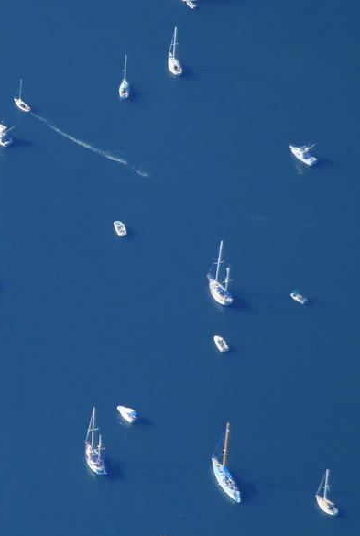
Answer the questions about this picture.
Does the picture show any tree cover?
No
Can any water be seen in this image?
Yes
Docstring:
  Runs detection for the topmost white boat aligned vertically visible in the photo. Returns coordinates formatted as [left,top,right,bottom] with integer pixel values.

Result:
[168,26,183,74]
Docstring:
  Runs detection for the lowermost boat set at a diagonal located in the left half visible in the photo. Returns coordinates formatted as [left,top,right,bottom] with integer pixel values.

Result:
[117,406,136,425]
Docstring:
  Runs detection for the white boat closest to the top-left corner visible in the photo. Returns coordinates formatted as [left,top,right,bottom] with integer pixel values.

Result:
[14,81,31,112]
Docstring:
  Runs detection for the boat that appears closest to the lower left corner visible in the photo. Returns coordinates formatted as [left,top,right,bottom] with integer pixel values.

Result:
[85,408,107,476]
